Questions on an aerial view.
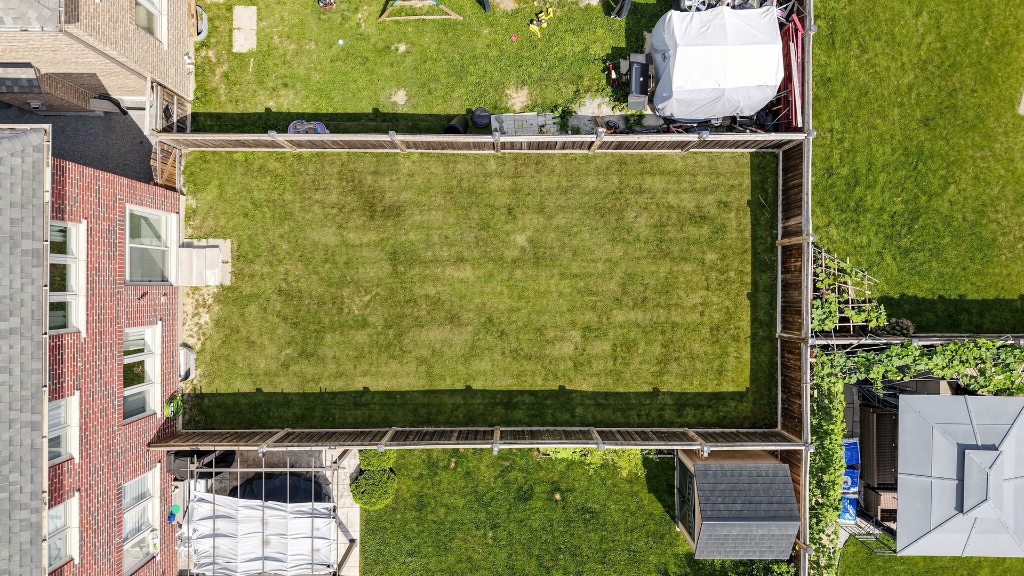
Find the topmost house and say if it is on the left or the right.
left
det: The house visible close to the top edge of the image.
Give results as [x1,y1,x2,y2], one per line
[0,0,194,119]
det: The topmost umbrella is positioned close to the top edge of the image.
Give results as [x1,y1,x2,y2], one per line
[609,0,629,24]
